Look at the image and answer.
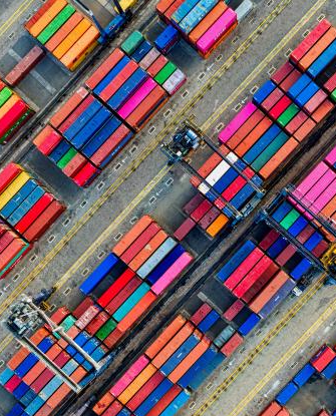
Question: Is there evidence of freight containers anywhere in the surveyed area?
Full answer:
Yes, there's a freight container here.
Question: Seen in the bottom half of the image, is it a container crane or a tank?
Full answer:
What appears in the bottom half of the image is a container crane.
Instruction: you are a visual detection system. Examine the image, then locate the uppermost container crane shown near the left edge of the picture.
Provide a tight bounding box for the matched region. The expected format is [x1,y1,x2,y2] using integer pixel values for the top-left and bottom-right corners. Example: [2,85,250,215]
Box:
[0,284,121,392]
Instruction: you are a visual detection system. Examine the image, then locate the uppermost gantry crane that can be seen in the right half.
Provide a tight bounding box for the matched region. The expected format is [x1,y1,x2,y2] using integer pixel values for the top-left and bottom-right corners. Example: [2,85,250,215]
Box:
[163,120,265,225]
